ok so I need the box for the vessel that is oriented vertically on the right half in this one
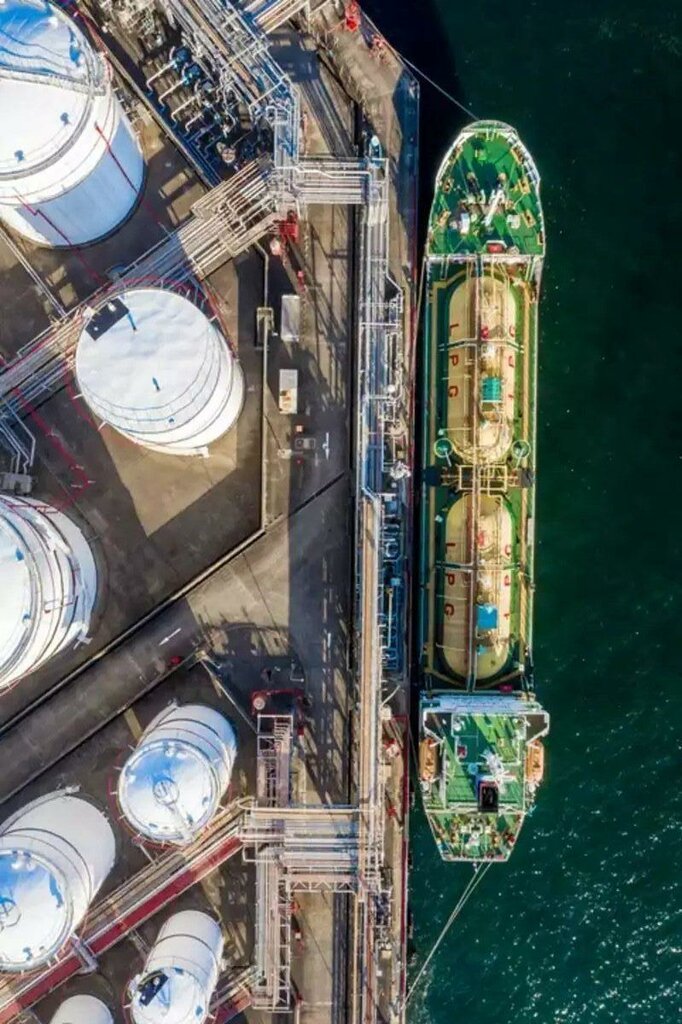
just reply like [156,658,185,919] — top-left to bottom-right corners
[415,119,550,865]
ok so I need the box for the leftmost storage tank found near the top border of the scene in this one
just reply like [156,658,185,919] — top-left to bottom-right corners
[0,0,186,286]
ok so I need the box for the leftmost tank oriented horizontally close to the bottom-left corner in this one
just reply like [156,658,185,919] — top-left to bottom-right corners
[50,994,117,1024]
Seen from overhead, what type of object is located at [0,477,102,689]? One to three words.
storage tank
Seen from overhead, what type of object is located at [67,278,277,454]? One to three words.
storage tank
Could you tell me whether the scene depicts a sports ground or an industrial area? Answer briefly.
industrial area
